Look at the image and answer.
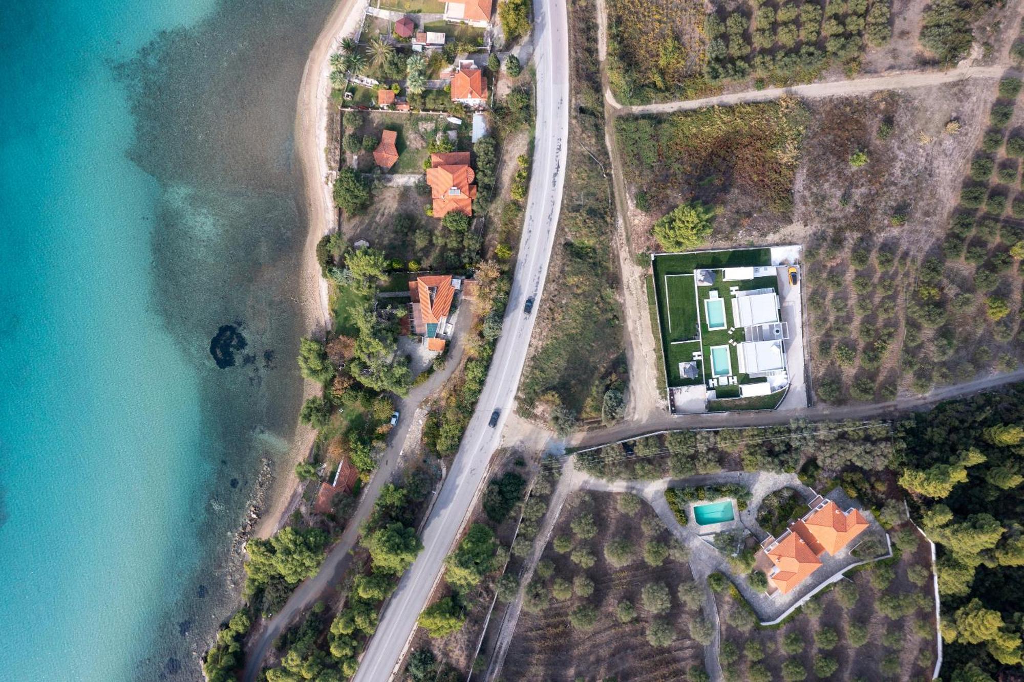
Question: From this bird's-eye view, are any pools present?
Yes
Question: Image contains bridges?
No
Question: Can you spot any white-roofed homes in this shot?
Yes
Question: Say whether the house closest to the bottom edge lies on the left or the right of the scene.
right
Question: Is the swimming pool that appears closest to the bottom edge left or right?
right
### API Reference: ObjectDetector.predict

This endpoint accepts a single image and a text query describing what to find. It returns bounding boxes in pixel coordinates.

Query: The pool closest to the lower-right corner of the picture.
[693,498,736,527]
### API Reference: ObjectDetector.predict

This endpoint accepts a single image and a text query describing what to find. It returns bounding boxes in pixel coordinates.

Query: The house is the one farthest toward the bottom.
[759,495,870,599]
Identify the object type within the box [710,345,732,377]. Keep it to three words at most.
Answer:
swimming pool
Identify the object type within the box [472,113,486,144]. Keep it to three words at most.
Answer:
shed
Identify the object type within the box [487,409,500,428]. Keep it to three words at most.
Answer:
vehicle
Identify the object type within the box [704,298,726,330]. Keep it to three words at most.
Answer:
swimming pool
